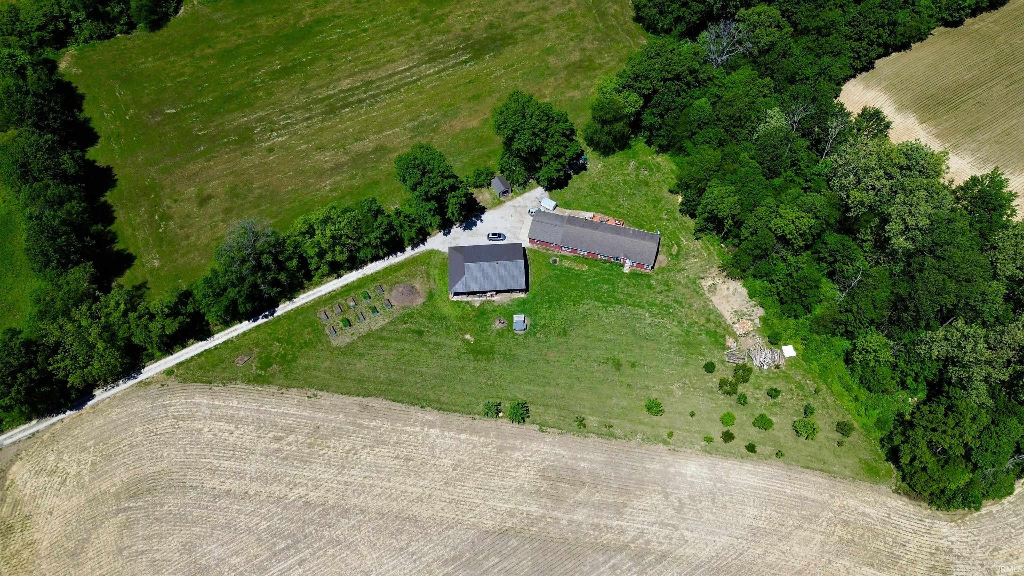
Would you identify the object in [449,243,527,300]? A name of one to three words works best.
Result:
barn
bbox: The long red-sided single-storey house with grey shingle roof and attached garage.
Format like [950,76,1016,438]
[528,210,660,273]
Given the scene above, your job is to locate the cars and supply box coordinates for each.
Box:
[487,234,505,243]
[526,209,544,219]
